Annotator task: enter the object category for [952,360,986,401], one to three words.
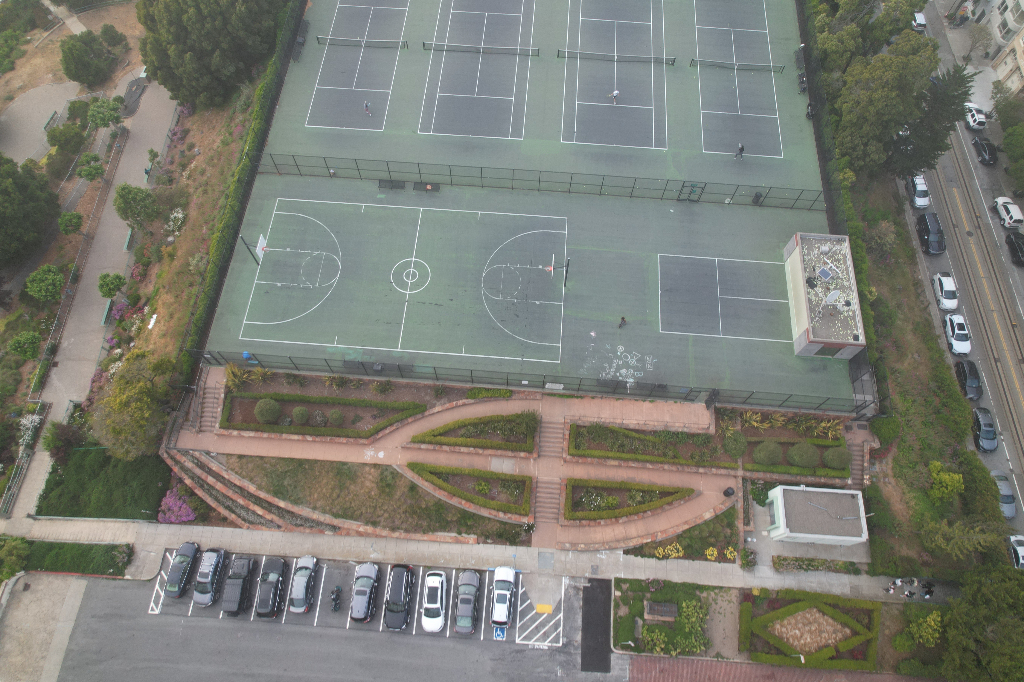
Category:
car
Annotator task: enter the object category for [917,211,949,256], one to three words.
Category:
car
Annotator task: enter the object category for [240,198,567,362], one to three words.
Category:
basketball court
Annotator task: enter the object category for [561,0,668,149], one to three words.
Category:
tennis court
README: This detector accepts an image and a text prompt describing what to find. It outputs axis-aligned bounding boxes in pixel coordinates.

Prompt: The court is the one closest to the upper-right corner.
[694,0,783,157]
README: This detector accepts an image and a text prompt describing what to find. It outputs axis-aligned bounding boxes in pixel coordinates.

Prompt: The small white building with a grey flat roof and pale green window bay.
[760,486,873,545]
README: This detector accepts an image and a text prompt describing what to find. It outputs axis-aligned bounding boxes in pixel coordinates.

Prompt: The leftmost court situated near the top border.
[305,0,410,131]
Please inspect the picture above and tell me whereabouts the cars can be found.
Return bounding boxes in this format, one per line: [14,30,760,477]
[1004,536,1024,582]
[967,407,1002,454]
[489,565,518,628]
[162,540,202,599]
[254,557,287,617]
[381,564,414,631]
[190,547,229,608]
[348,562,379,622]
[420,570,448,632]
[960,101,992,133]
[932,271,961,312]
[952,360,986,401]
[917,211,949,256]
[969,135,997,168]
[993,195,1024,231]
[942,313,974,358]
[1004,230,1024,270]
[453,570,481,634]
[907,172,934,209]
[216,555,256,617]
[287,554,320,614]
[991,471,1021,519]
